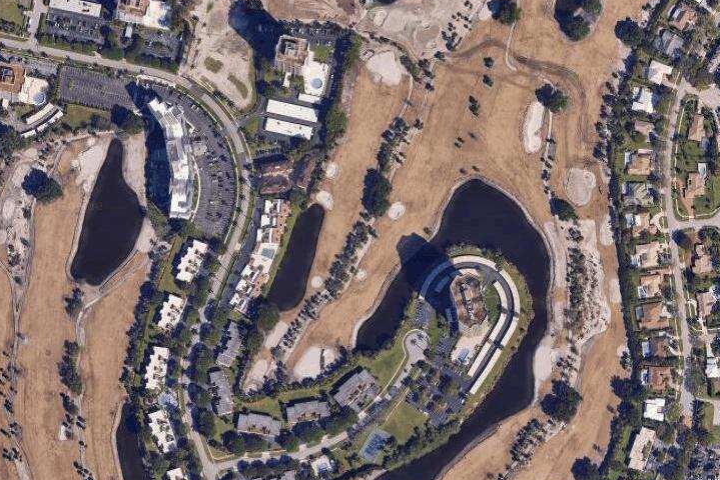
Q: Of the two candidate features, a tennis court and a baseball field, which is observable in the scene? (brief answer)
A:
tennis court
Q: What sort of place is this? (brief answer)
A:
golf course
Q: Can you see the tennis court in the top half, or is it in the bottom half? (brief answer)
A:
bottom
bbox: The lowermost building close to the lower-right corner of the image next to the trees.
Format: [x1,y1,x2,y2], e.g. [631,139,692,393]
[629,427,656,472]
